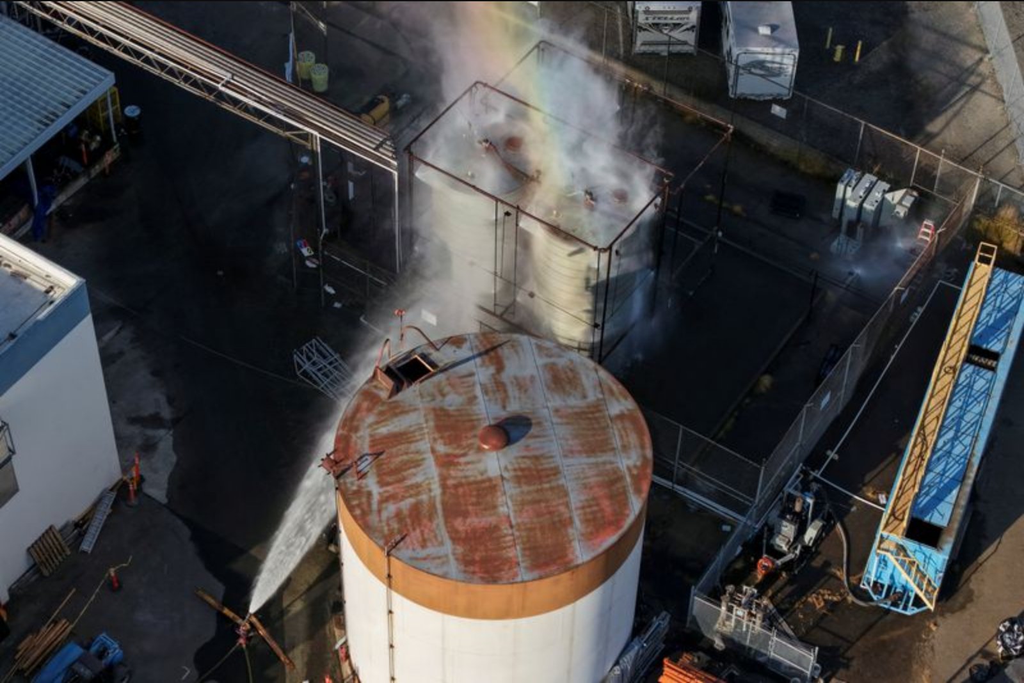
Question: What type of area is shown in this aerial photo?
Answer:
industrial area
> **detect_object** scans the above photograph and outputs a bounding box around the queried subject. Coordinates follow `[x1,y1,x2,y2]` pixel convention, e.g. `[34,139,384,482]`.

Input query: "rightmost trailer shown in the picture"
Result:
[859,225,1024,633]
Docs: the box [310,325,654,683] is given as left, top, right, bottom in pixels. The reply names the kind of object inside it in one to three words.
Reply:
storage tank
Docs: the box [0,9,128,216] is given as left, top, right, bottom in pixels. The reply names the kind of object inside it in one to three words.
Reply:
shed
